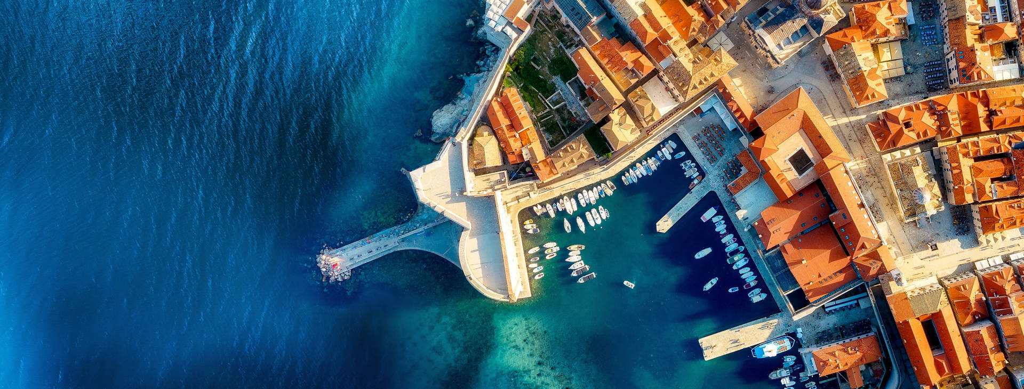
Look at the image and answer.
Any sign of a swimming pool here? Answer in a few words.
No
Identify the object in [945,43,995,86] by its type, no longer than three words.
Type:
house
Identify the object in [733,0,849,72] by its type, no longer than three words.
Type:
building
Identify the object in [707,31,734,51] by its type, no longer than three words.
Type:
umbrella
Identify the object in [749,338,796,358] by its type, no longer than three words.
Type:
vessel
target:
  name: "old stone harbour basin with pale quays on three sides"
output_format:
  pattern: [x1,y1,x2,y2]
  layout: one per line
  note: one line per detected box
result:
[506,123,811,377]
